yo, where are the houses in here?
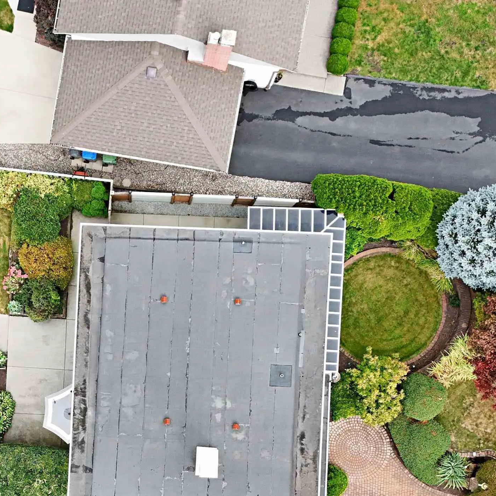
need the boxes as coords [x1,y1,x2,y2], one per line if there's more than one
[66,223,333,496]
[46,0,311,178]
